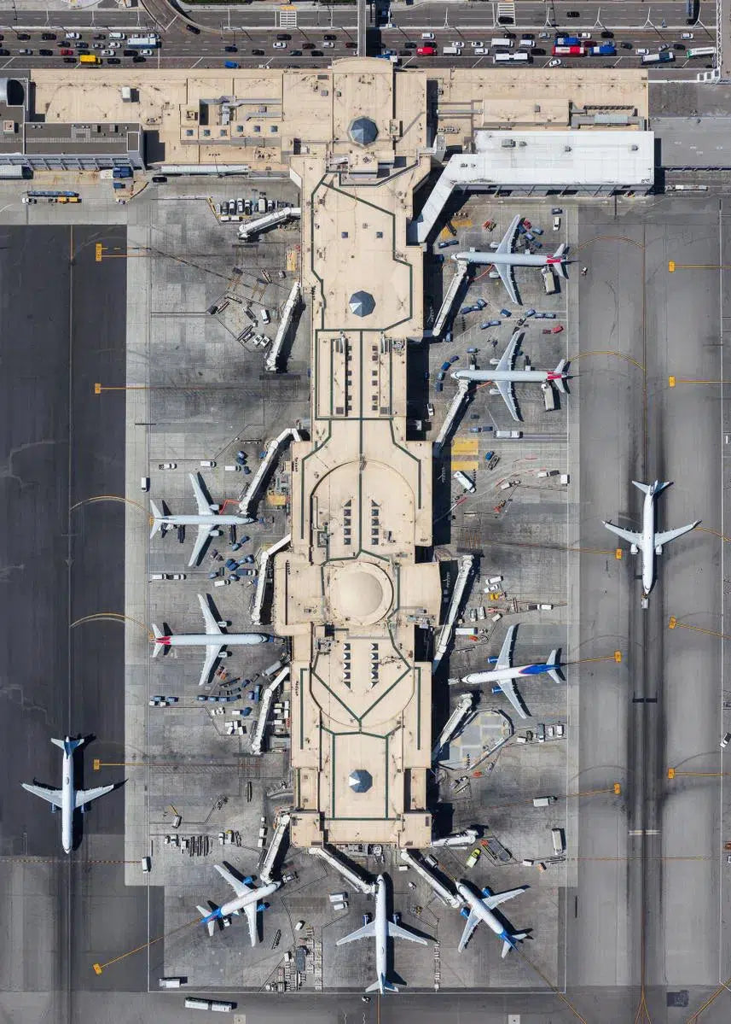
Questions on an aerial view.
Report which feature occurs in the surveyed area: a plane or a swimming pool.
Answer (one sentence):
Looking from above, you can make out a plane.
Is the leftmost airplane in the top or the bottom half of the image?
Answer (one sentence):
The leftmost airplane is in the bottom half of the image.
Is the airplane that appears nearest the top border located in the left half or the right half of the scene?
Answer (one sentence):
It is on the right.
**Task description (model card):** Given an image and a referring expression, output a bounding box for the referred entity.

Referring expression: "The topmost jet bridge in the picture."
[237,207,301,245]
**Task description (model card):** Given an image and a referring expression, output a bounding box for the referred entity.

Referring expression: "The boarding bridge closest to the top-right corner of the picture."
[431,260,469,337]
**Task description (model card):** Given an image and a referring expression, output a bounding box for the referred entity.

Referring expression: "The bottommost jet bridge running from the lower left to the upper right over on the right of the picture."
[432,691,474,758]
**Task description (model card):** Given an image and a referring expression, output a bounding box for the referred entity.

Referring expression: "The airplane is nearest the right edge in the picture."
[604,480,699,594]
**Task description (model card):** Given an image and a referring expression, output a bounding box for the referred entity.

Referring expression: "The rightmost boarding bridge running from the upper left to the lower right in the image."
[399,848,468,905]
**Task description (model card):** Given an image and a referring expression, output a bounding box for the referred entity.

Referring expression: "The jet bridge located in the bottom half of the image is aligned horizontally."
[432,830,482,847]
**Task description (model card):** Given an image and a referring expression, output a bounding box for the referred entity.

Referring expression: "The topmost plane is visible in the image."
[451,215,570,304]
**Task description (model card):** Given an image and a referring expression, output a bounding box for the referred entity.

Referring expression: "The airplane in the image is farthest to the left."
[20,737,112,854]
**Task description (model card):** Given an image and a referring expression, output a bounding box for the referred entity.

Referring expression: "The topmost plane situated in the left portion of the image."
[150,471,255,564]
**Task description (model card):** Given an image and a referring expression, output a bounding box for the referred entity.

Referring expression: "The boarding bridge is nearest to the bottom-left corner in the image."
[264,810,290,886]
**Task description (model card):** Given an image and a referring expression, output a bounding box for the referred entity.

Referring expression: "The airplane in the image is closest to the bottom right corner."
[455,879,530,961]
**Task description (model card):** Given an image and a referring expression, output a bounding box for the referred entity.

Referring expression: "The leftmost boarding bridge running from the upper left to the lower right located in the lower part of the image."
[310,848,378,893]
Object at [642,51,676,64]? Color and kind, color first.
white vehicle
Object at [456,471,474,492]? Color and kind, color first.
white vehicle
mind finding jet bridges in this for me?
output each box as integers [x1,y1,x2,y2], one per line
[432,691,474,758]
[251,663,291,757]
[238,425,305,518]
[399,848,468,905]
[432,553,474,671]
[237,207,301,245]
[265,282,302,377]
[310,848,378,893]
[251,531,292,628]
[431,260,469,337]
[264,810,290,886]
[433,378,469,450]
[432,830,482,847]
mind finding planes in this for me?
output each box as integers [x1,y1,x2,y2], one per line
[455,879,530,961]
[20,737,112,854]
[461,624,565,718]
[451,215,570,304]
[150,471,255,564]
[148,593,269,684]
[337,874,427,996]
[195,867,281,947]
[451,331,570,421]
[604,480,699,594]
